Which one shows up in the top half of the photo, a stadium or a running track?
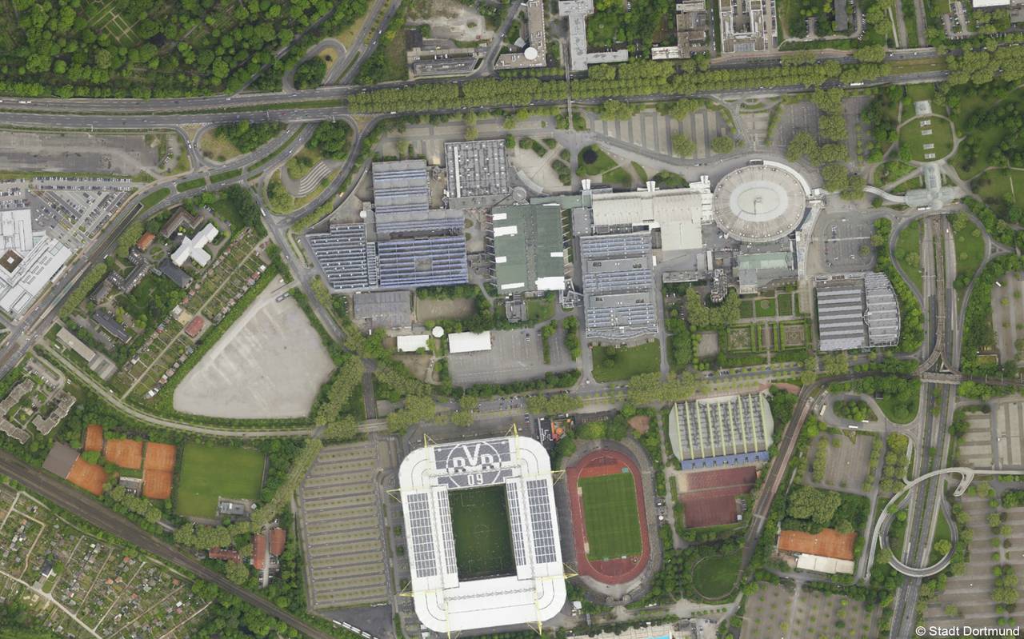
stadium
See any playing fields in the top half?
No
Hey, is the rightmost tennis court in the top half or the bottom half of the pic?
bottom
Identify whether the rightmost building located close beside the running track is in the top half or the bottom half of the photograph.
bottom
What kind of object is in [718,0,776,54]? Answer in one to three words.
building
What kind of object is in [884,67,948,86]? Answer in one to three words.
overpass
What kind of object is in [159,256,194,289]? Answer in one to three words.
house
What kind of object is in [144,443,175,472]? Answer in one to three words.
tennis court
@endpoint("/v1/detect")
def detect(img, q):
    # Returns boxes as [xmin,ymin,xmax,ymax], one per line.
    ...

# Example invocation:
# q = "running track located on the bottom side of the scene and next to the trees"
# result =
[555,431,665,603]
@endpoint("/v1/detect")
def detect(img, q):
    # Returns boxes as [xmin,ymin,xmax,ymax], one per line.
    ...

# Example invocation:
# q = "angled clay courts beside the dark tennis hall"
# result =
[66,456,107,494]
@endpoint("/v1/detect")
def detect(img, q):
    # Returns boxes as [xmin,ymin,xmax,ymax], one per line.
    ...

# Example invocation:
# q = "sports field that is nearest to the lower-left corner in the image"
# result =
[175,444,265,518]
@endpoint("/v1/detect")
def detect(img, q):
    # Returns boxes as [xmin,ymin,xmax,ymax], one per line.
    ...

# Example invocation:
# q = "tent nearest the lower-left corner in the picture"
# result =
[397,335,429,352]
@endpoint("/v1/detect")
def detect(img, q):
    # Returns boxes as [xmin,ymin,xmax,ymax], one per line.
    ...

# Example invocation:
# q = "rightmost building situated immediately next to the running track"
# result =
[668,392,772,469]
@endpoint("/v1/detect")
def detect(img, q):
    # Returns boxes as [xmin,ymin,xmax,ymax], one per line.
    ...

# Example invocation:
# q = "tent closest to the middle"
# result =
[448,331,491,353]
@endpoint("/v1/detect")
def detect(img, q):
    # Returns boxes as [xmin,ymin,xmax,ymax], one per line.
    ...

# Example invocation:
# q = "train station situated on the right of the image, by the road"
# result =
[901,162,969,211]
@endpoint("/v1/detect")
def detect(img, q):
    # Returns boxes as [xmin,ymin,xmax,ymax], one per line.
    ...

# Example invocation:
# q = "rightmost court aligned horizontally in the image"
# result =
[778,528,856,560]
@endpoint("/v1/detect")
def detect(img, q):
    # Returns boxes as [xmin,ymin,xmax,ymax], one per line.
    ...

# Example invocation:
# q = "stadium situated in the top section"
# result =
[713,164,806,242]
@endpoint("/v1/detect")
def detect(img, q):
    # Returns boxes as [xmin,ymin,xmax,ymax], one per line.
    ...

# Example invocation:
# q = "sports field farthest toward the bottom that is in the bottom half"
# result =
[691,553,740,600]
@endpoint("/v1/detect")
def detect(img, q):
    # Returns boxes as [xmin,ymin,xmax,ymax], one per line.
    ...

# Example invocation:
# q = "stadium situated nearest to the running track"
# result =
[389,421,578,639]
